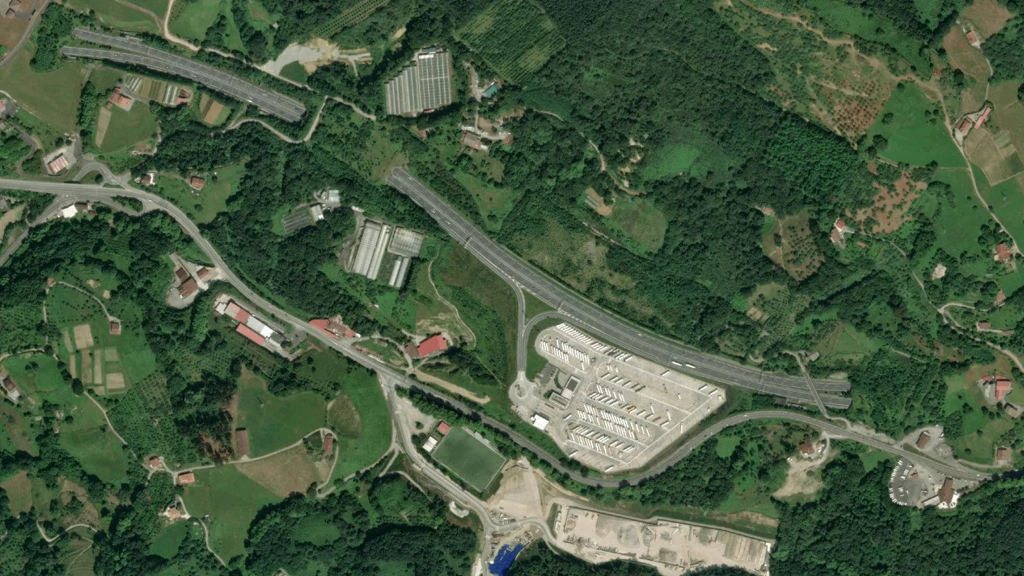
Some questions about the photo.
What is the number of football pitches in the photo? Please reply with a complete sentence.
I count just 1 football pitch.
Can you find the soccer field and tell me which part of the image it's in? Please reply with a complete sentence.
The soccer field appears toward the bottom of the photo.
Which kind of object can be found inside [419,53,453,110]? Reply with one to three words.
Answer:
greenhouse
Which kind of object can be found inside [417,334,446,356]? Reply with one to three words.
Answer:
barn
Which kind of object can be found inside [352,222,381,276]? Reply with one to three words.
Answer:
greenhouse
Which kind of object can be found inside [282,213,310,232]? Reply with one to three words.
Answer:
house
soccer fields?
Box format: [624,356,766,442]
[431,426,506,490]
